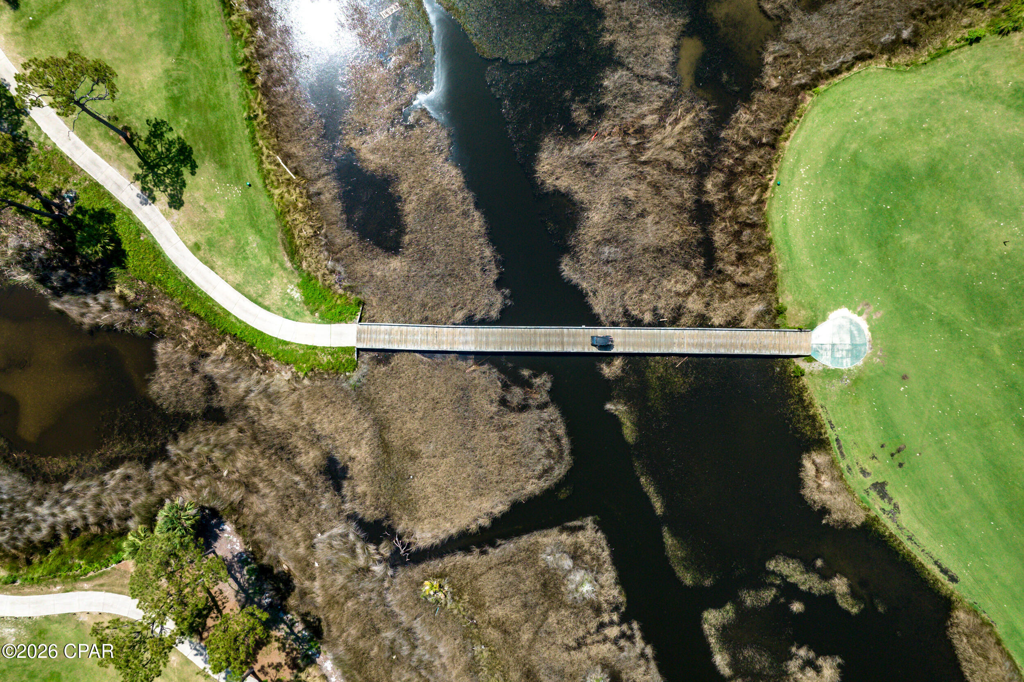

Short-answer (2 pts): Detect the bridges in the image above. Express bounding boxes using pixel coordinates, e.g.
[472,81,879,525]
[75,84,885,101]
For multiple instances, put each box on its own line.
[355,304,813,362]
